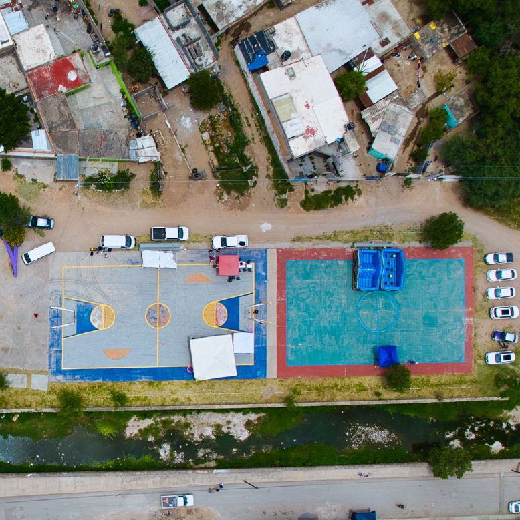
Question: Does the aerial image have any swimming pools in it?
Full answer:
No, no swimming pool is visible in the view.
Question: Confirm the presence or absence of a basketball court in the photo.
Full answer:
Yes, this view includes a basketball court.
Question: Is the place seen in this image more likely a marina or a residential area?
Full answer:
It's a residential area.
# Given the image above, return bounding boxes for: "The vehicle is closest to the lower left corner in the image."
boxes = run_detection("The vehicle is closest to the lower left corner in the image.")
[160,493,194,509]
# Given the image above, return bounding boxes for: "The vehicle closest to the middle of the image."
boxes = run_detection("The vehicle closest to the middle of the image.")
[211,233,249,249]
